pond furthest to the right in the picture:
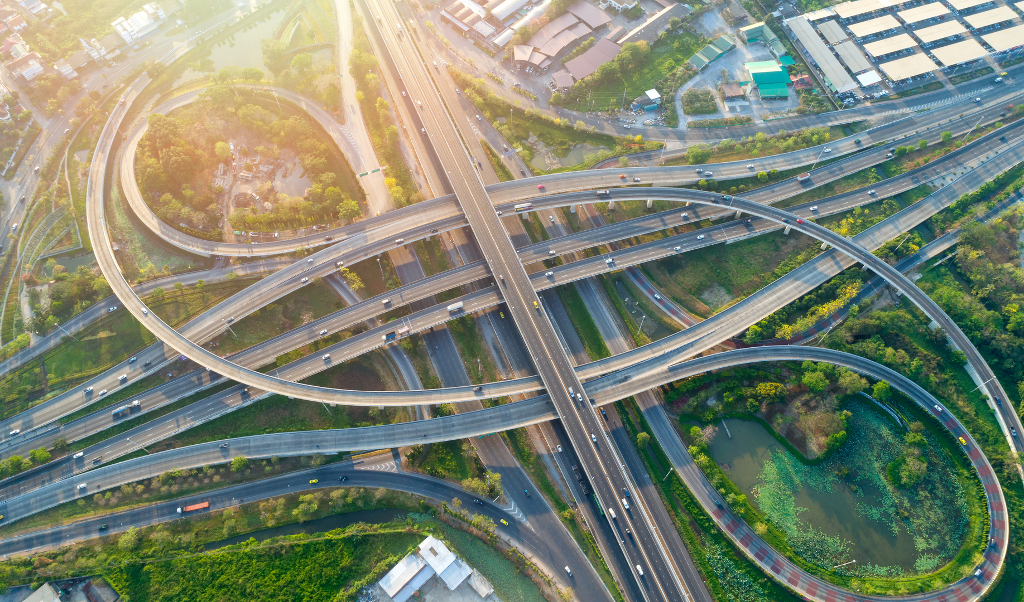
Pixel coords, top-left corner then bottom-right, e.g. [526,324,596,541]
[711,393,970,577]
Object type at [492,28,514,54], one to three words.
building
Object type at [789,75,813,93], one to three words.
house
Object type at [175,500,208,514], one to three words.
vehicle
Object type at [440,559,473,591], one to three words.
building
